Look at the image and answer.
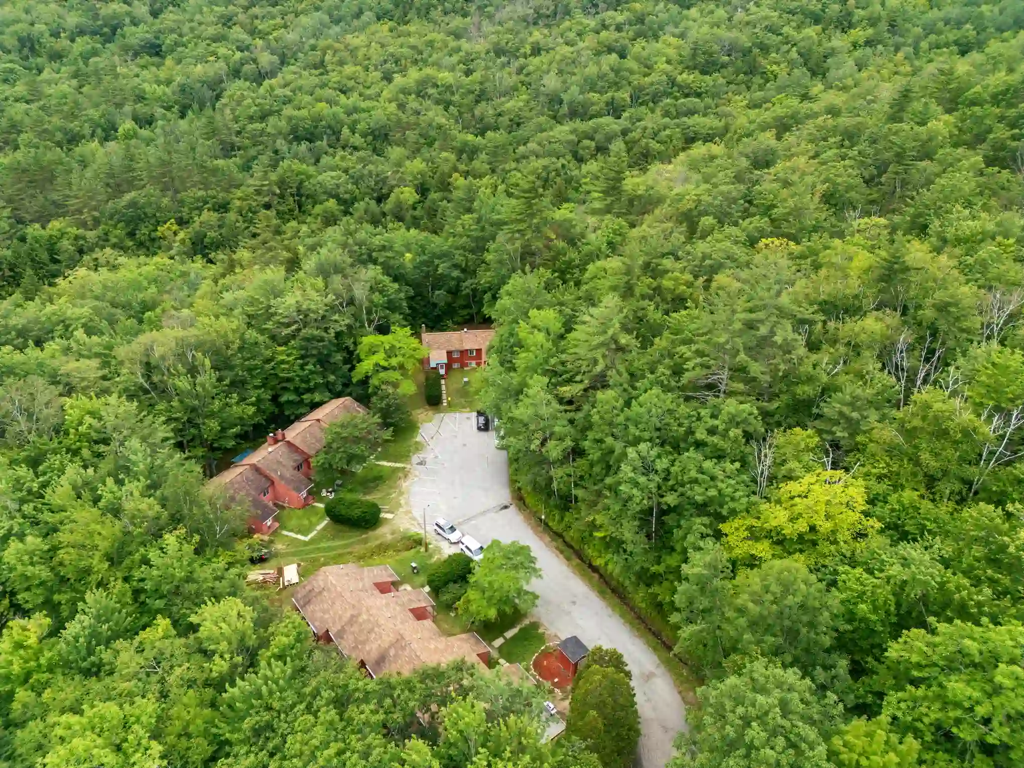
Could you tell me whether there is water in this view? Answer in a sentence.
No, the picture contains no water.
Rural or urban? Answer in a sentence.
From above, the setting appears rural.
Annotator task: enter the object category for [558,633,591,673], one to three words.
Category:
shed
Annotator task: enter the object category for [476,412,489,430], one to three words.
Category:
vehicle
